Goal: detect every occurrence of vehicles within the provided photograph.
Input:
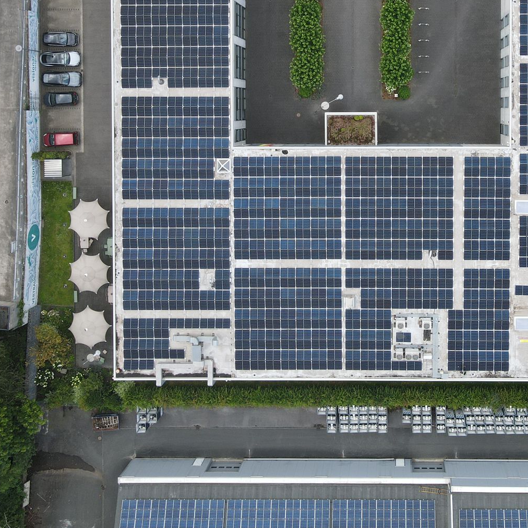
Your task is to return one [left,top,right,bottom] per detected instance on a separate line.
[44,130,80,147]
[43,70,83,89]
[45,91,79,107]
[42,50,82,68]
[42,30,80,48]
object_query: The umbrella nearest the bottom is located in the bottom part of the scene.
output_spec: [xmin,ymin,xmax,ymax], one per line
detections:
[71,306,114,347]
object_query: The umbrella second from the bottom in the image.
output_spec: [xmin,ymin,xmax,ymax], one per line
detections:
[72,251,112,292]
